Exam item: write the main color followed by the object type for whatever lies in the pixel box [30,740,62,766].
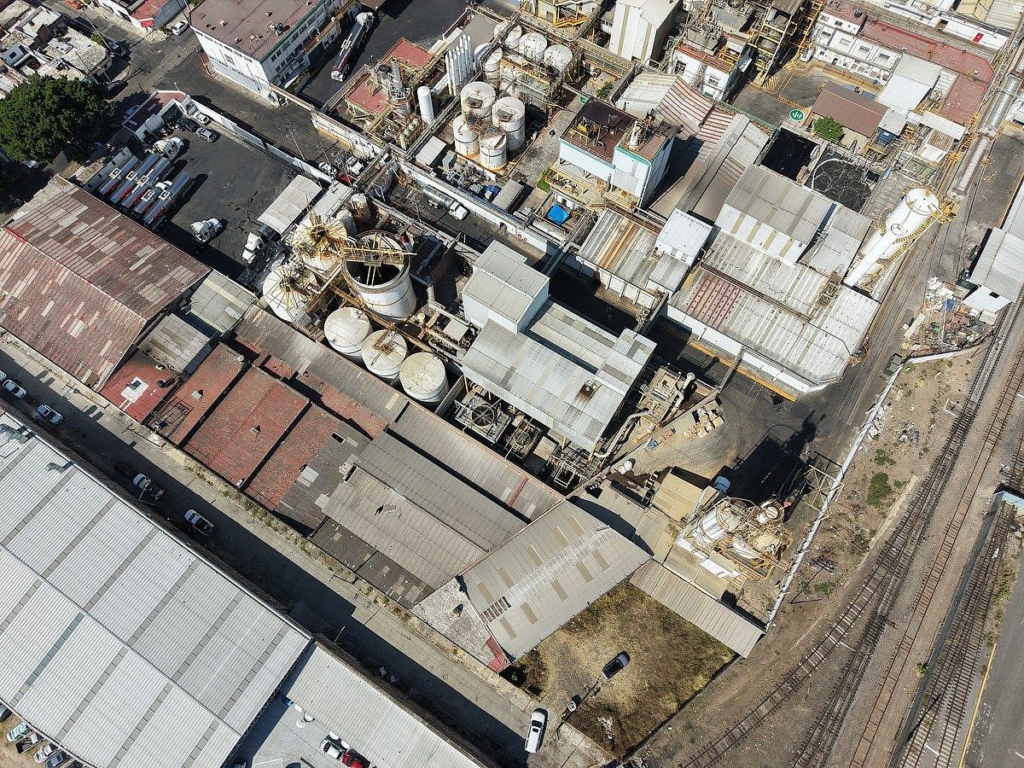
white car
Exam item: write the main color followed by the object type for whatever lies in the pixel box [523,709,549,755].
white car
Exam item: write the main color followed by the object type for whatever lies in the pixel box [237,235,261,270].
white truck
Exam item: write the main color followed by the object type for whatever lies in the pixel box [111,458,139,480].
black car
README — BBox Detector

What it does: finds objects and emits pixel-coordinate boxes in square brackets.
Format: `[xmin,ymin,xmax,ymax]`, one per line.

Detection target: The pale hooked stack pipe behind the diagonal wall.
[672,377,692,417]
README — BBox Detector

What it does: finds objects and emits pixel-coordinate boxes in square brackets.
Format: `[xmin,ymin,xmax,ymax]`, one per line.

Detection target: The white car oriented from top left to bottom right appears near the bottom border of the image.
[317,734,345,765]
